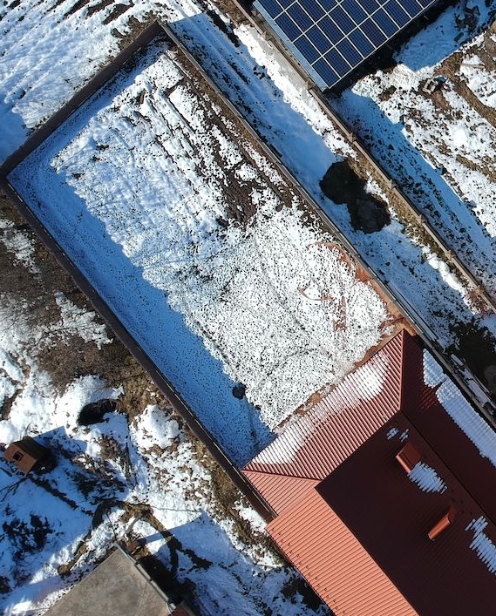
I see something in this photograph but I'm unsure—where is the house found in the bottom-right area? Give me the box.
[241,328,496,616]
